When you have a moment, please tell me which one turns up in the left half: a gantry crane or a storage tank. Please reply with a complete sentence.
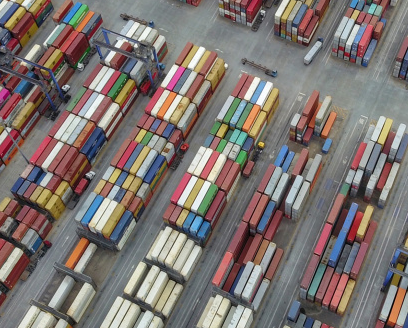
The one visible in the left half is a gantry crane.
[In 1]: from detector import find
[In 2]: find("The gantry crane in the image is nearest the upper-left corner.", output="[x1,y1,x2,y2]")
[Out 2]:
[0,45,68,116]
